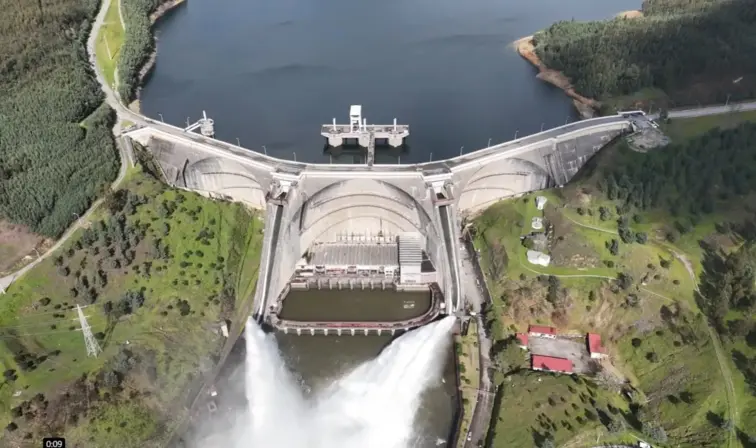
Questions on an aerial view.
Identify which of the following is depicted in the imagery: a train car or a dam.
dam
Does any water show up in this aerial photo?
Yes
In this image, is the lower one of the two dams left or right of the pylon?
right of it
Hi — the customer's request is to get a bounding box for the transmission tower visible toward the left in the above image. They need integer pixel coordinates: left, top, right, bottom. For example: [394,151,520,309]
[0,303,107,361]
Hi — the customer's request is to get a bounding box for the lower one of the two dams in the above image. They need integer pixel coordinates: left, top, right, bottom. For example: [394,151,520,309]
[277,286,439,340]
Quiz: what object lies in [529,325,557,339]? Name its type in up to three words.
house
